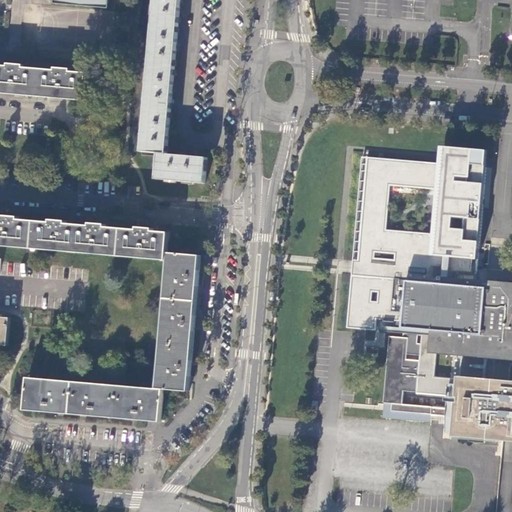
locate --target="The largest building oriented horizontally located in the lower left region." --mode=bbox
[20,377,165,422]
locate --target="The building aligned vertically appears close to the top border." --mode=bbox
[136,0,184,154]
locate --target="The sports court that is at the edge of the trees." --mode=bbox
[41,8,92,40]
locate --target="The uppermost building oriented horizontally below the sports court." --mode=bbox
[0,64,80,101]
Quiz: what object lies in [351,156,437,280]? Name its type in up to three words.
building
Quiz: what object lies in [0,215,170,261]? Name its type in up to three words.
building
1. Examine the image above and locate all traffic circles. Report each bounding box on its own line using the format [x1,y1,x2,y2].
[246,40,314,124]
